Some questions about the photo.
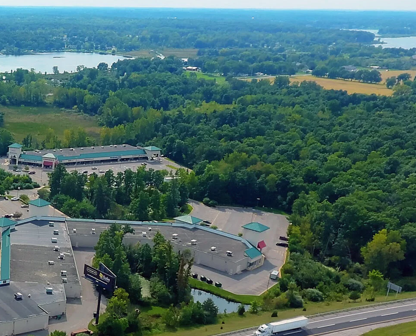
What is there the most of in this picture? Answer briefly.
trees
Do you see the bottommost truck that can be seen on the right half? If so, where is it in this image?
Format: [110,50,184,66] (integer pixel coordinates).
[259,313,307,336]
